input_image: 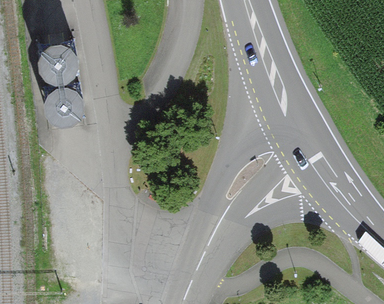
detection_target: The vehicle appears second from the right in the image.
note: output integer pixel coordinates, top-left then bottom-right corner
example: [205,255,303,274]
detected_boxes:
[292,146,307,170]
